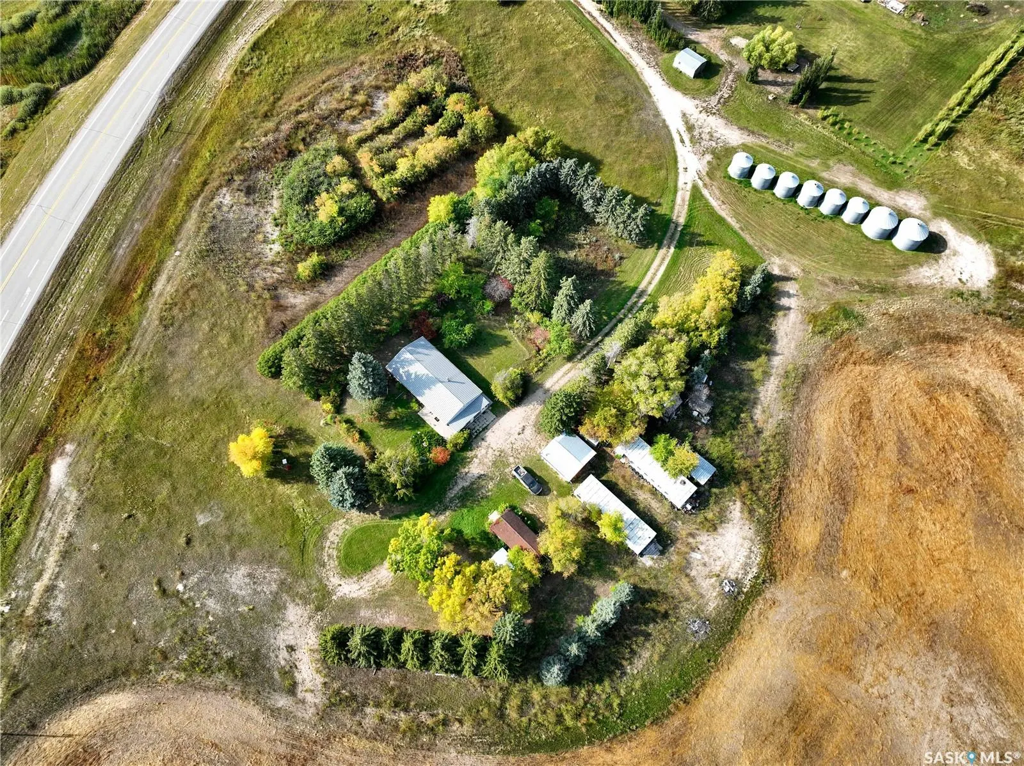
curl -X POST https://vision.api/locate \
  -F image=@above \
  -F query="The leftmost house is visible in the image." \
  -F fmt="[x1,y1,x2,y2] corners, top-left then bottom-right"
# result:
[385,337,491,435]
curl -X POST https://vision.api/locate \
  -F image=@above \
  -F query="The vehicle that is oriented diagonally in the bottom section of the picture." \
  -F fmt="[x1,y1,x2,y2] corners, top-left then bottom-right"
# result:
[509,462,545,499]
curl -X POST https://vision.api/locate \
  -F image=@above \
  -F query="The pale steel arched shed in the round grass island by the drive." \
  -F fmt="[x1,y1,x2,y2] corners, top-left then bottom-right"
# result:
[673,46,709,78]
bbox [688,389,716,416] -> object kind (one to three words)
shed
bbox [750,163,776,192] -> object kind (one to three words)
silo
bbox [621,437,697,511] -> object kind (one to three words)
house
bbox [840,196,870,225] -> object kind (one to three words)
silo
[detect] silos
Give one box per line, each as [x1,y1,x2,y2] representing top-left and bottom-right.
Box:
[889,218,930,255]
[840,196,870,225]
[727,151,753,180]
[772,172,800,200]
[750,163,776,192]
[795,179,824,209]
[861,208,899,243]
[818,188,847,217]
